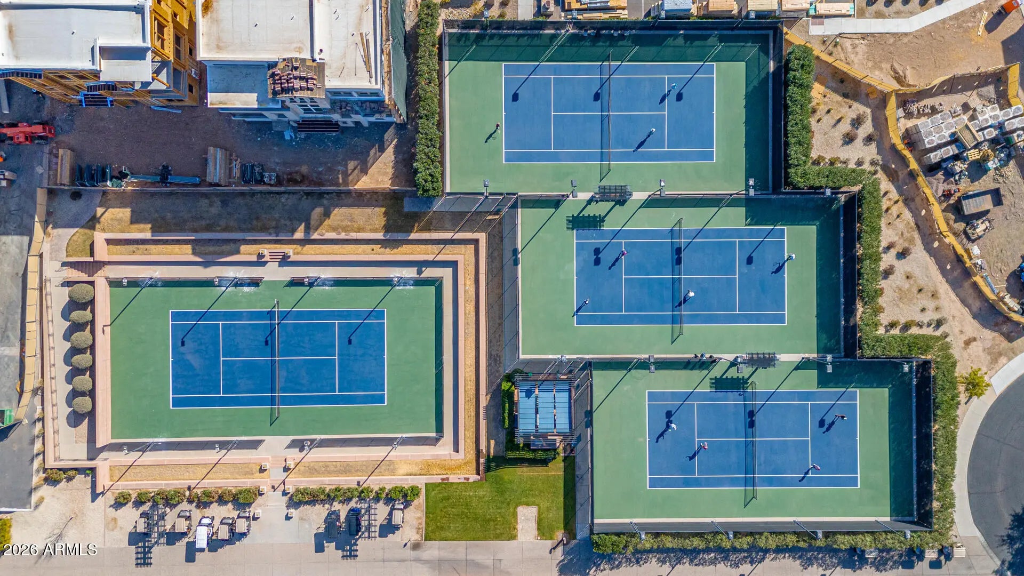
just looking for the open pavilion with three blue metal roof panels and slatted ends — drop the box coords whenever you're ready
[515,373,576,447]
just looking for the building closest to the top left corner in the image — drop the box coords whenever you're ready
[0,0,211,112]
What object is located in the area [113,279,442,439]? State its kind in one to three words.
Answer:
tennis court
